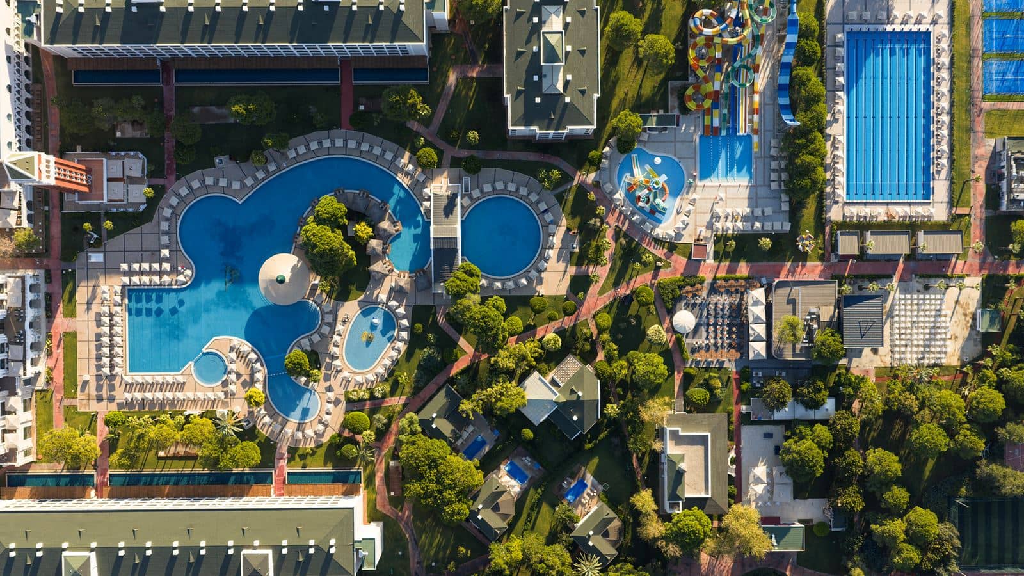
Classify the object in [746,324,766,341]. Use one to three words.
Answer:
tent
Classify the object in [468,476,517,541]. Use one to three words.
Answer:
house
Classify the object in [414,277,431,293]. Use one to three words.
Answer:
umbrella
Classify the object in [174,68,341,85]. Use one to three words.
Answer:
swimming pool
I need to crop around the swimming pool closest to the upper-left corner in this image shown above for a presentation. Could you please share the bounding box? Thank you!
[72,69,162,86]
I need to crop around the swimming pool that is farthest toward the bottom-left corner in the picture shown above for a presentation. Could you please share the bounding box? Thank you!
[6,473,96,487]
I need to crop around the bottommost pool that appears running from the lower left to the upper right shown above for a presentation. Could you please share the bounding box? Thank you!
[564,478,589,503]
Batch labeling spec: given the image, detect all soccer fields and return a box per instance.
[958,498,1024,571]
